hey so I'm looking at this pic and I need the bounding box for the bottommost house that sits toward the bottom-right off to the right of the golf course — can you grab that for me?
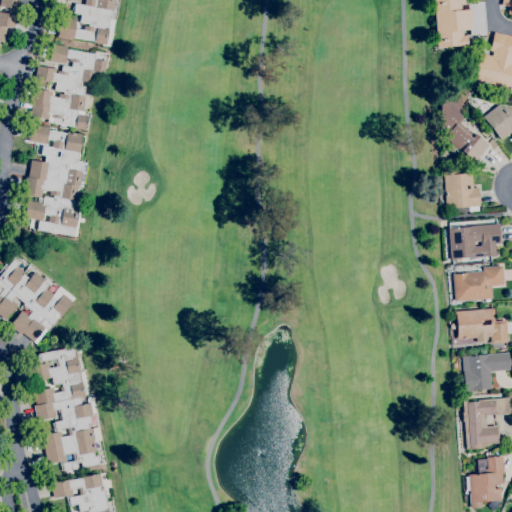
[466,456,505,506]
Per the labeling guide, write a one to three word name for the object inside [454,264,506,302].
house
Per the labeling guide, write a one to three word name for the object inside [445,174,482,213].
house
